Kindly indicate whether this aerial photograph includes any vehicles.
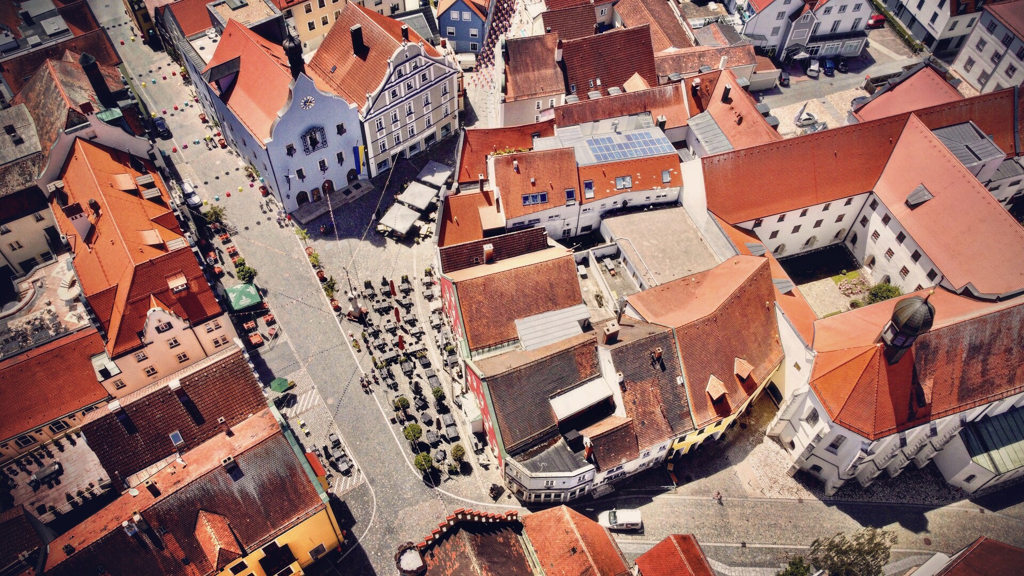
Yes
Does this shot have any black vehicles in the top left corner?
Yes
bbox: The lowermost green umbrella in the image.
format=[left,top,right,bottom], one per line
[271,377,289,400]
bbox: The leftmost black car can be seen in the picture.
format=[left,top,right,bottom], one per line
[150,117,174,140]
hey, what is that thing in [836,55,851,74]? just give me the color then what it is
black car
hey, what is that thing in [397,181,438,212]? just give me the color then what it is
white umbrella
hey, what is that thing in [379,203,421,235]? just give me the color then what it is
white umbrella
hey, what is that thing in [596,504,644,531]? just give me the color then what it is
white vehicle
